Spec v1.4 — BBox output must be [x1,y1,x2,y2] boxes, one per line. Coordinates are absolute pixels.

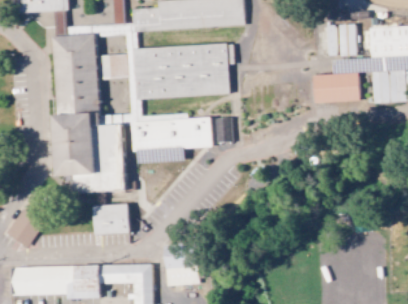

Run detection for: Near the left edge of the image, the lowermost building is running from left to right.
[11,265,100,299]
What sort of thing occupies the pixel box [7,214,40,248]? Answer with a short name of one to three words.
building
